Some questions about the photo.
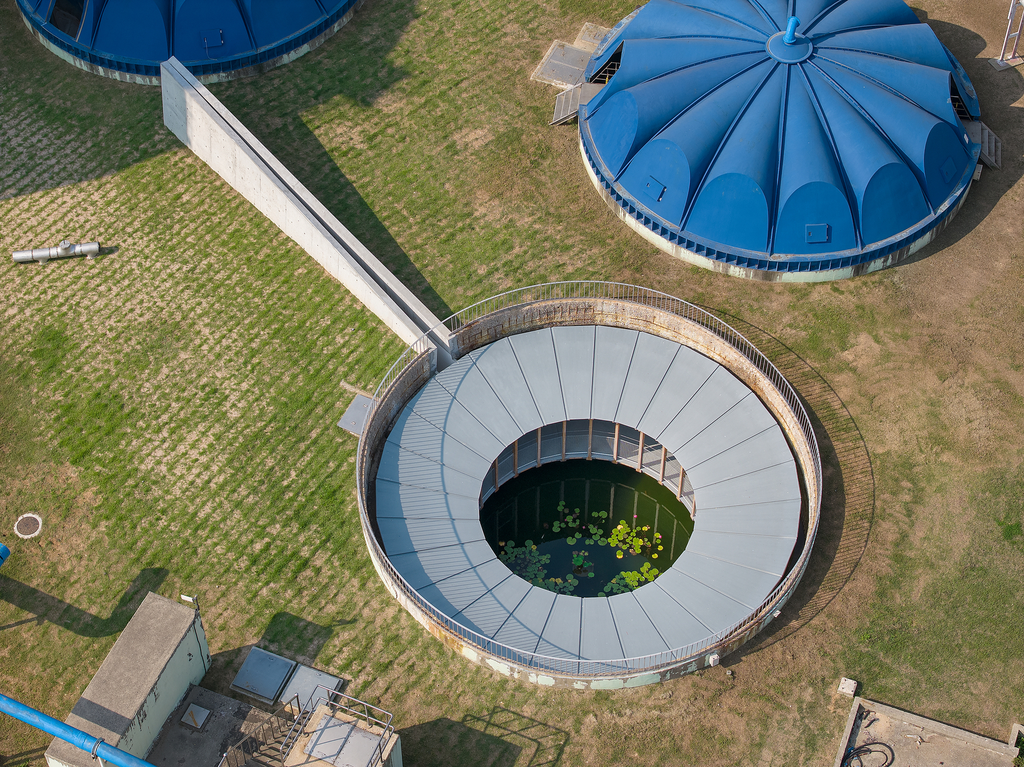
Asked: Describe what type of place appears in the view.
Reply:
industrial area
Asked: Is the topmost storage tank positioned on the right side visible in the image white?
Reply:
No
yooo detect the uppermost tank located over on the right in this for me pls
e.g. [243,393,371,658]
[580,0,981,282]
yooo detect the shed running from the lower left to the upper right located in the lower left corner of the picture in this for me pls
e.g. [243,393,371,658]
[44,592,207,767]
